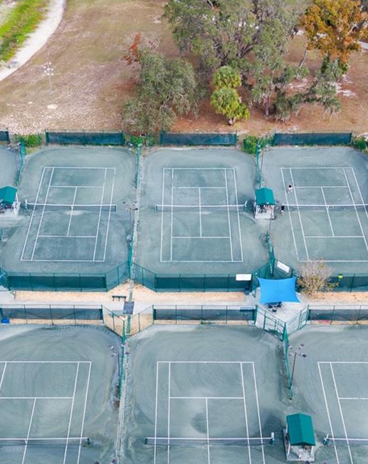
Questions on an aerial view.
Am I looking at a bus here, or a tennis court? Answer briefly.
tennis court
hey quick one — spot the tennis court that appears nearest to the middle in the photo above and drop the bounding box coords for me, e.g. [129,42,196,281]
[136,146,270,289]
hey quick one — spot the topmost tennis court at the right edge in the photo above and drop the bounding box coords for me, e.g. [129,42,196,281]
[255,147,368,286]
